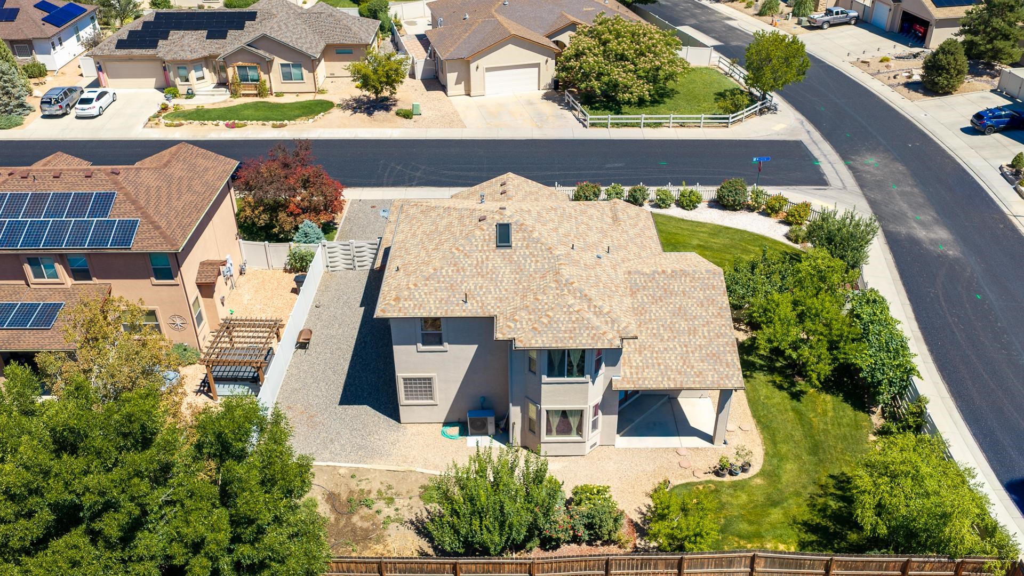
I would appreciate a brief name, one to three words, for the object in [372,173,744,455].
house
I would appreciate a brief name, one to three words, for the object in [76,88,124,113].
car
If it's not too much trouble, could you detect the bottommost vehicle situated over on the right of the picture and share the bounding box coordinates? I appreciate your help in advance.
[969,103,1024,132]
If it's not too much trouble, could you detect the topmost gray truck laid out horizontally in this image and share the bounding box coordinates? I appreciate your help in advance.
[811,5,861,28]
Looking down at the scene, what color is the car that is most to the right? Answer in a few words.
blue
